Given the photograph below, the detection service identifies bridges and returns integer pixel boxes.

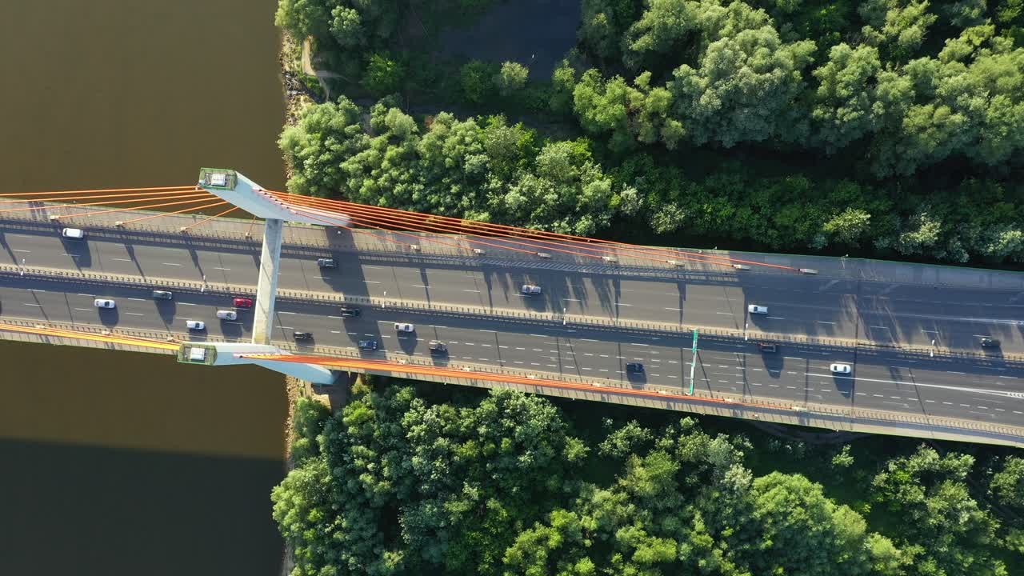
[0,167,1024,448]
